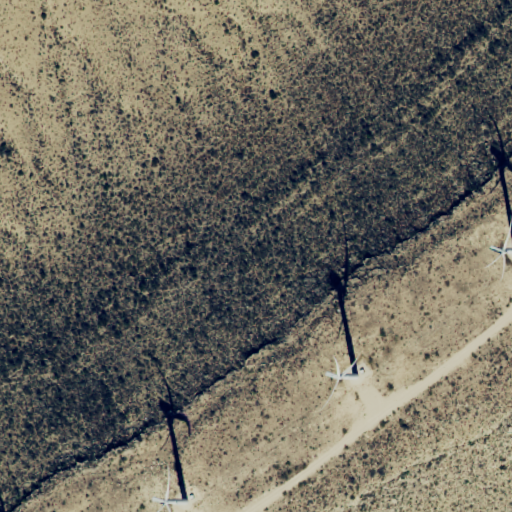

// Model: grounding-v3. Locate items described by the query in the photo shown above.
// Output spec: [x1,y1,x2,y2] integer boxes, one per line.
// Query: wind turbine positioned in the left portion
[150,467,192,512]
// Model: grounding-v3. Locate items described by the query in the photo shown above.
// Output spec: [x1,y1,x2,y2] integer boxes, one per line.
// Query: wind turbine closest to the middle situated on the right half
[316,356,362,410]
